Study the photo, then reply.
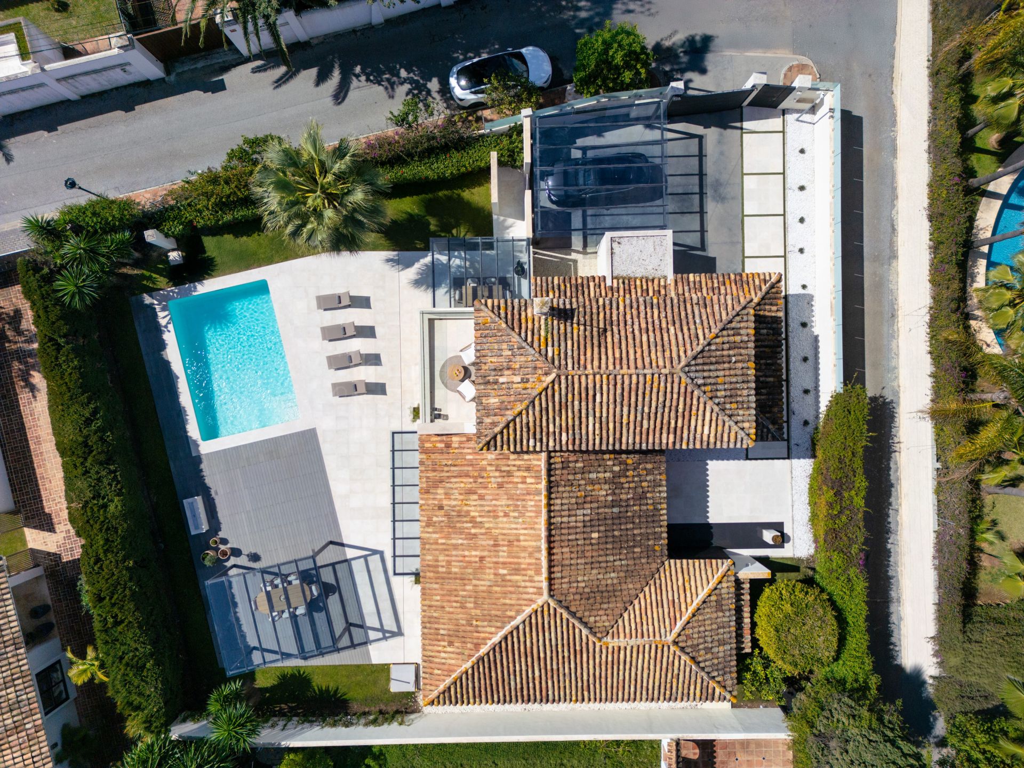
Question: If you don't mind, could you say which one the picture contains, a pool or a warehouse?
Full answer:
There is a pool in the scene.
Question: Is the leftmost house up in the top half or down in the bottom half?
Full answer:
The leftmost house is in the bottom half of the image.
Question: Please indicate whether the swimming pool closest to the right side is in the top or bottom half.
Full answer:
Seen from above, the swimming pool closest to the right side lies in the top half of the view.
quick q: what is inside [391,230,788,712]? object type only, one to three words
house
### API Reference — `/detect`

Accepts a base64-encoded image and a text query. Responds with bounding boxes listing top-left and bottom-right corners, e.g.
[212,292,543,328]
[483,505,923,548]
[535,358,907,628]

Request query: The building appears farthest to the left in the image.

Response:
[0,541,94,768]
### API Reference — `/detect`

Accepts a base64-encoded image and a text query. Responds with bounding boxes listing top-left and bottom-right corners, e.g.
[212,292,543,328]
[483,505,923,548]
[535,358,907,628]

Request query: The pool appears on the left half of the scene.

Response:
[152,267,314,457]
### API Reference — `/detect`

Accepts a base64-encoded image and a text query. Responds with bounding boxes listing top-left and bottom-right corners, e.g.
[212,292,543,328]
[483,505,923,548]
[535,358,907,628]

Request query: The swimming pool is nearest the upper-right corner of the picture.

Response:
[967,161,1024,370]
